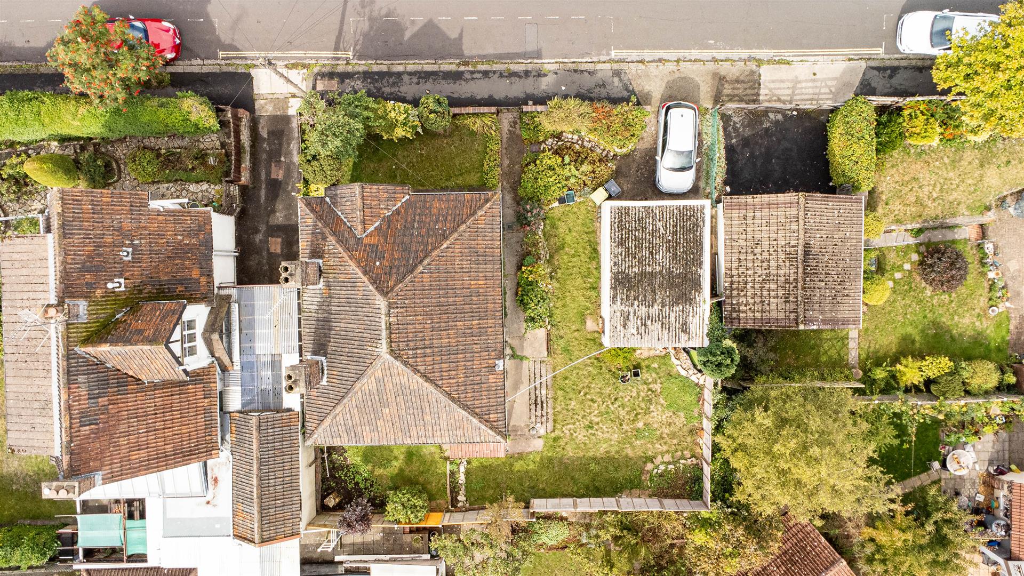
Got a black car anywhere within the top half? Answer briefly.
No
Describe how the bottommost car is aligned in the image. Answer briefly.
vertically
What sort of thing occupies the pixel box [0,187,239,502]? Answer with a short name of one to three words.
house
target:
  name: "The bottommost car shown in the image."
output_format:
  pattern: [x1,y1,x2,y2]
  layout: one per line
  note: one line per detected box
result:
[654,102,702,194]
